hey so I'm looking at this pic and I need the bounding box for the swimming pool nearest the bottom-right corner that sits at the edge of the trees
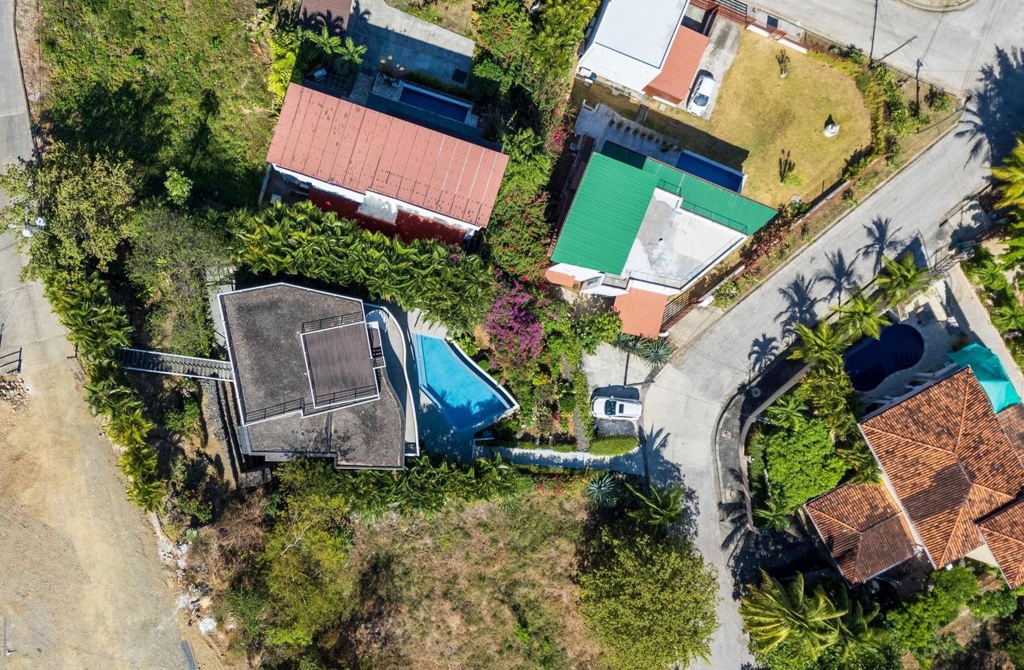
[845,323,924,390]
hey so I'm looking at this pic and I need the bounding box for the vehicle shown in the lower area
[591,396,641,420]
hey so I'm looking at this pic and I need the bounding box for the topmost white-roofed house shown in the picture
[577,0,718,109]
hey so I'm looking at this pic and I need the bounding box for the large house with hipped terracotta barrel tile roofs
[800,365,1024,596]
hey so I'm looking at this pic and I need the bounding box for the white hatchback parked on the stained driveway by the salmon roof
[686,72,715,117]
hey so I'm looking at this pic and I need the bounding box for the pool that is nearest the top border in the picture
[393,79,477,127]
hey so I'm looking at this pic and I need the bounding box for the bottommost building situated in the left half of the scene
[218,283,422,470]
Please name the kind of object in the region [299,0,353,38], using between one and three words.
shed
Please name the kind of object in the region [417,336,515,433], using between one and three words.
swimming pool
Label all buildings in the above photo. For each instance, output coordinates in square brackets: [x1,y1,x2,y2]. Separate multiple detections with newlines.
[299,0,353,38]
[218,283,422,470]
[800,365,1024,596]
[266,83,509,263]
[545,130,779,339]
[577,0,718,109]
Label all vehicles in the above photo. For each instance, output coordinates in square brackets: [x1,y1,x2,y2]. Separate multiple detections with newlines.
[591,396,641,420]
[686,72,715,117]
